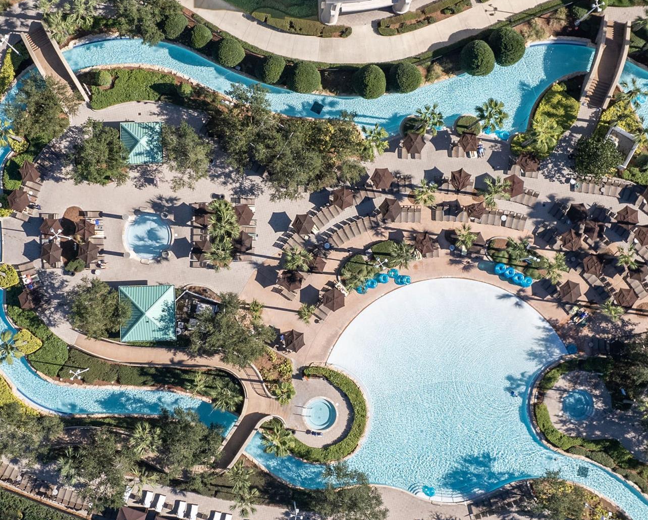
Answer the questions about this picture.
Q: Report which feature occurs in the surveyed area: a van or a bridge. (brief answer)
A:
bridge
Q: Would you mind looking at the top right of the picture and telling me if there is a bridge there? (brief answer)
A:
Yes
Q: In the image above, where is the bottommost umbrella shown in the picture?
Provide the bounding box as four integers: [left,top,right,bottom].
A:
[283,329,307,353]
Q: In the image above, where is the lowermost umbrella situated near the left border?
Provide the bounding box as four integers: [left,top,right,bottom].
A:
[16,288,40,312]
